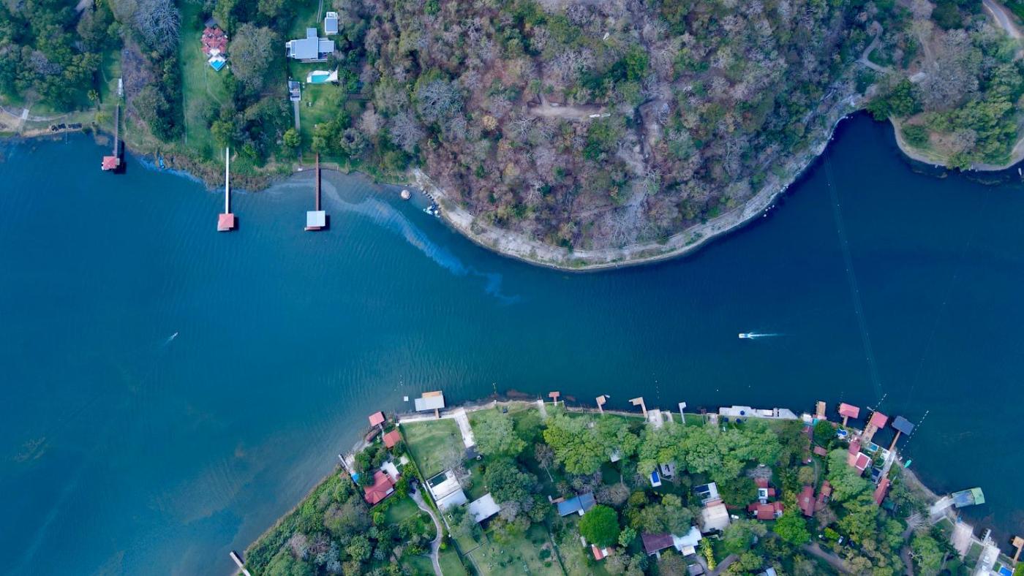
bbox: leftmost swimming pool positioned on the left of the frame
[209,56,226,71]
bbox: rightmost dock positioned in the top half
[305,153,326,231]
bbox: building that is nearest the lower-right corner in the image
[950,486,985,507]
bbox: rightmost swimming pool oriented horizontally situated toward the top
[307,66,338,83]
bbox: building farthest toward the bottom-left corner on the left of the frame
[364,470,397,504]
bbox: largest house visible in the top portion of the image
[286,27,337,63]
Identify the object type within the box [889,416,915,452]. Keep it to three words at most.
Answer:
pier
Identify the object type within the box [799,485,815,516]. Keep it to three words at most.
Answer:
house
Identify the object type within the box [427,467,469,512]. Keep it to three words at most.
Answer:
building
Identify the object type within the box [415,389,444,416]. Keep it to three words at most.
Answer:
pier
